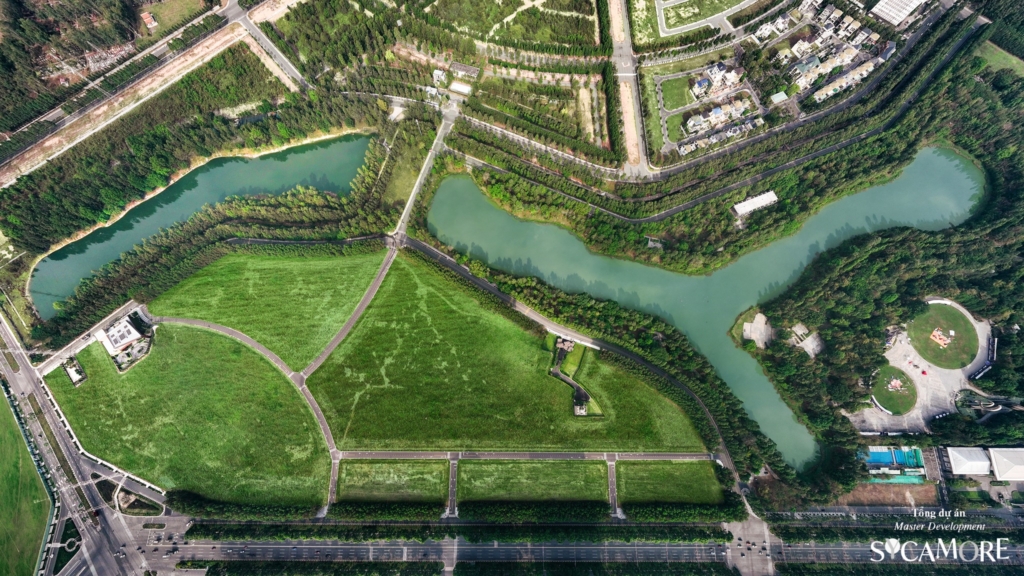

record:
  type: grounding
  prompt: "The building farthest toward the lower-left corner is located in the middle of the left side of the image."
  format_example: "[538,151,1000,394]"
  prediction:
[95,321,142,350]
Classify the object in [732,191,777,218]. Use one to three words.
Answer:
building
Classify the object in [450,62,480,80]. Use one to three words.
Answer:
building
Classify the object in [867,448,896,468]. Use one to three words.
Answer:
swimming pool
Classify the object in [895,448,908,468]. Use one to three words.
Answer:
swimming pool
